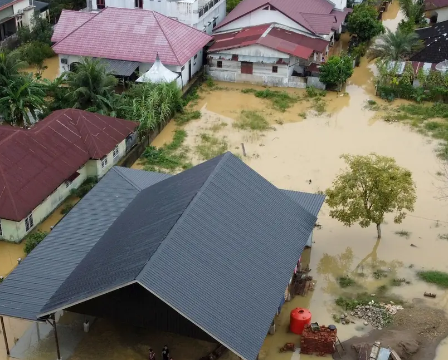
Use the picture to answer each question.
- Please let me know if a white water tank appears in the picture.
No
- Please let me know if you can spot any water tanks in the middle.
No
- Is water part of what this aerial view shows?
Yes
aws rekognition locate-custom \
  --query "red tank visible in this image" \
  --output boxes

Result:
[288,307,312,337]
